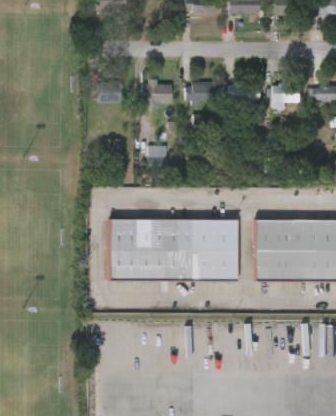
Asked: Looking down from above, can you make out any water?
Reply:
No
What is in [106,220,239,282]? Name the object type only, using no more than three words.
building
